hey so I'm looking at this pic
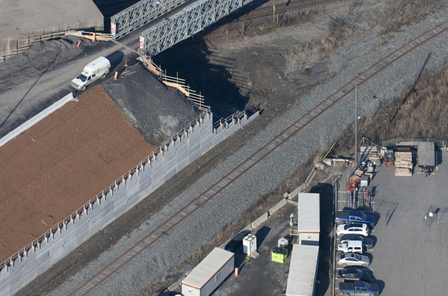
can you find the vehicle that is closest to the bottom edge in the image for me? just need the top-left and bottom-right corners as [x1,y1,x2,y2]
[338,277,381,295]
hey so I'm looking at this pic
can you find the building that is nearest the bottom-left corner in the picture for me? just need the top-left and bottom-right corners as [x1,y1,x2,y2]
[173,243,243,296]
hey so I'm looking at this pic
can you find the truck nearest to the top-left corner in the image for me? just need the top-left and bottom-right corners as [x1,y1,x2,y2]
[74,52,110,84]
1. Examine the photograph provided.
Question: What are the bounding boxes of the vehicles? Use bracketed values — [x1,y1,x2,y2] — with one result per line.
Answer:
[337,220,368,233]
[337,264,371,278]
[74,52,110,84]
[337,251,371,266]
[340,231,374,245]
[338,277,381,295]
[335,206,377,224]
[335,235,366,252]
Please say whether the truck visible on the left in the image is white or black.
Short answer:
white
